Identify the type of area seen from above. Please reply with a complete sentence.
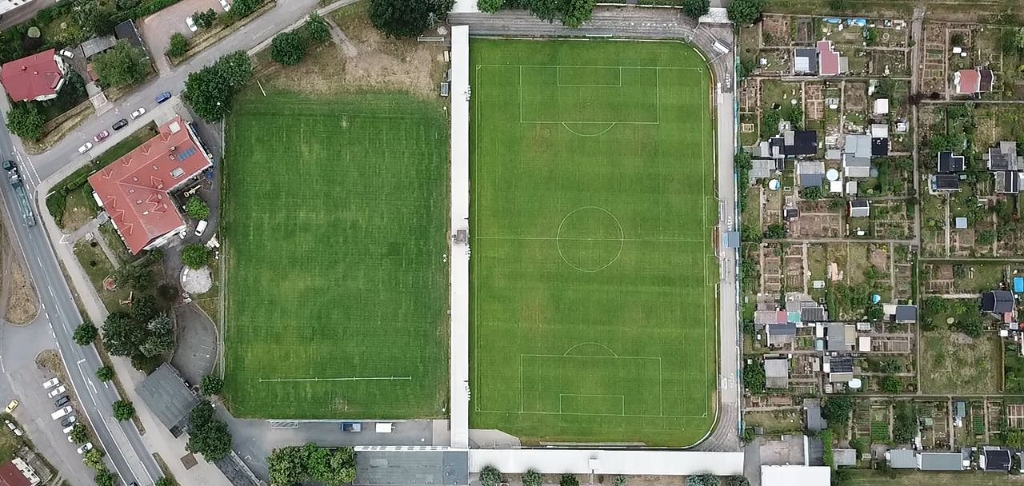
The area seen from above is a sports ground.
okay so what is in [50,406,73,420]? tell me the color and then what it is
white vehicle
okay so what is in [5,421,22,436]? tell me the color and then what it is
white car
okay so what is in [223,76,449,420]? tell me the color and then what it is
green soccer field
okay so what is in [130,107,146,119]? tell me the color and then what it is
white vehicle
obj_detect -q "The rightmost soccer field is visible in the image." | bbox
[469,38,719,448]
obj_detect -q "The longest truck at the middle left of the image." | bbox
[3,163,36,228]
